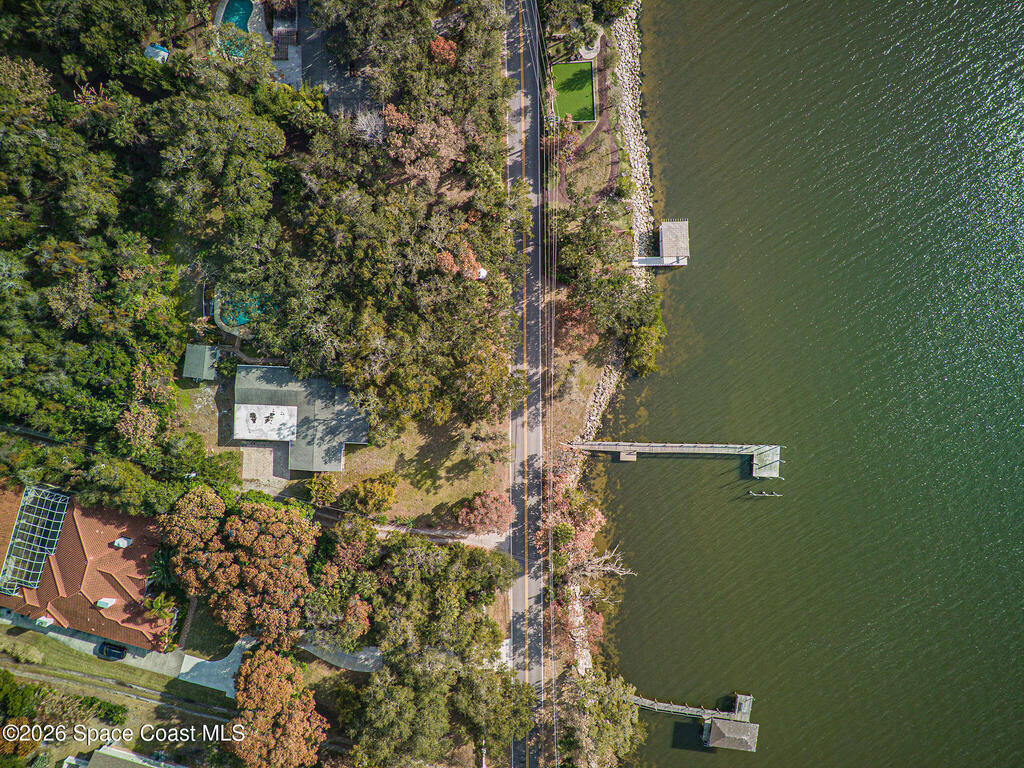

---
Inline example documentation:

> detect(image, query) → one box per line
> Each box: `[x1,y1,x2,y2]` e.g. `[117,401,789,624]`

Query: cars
[97,642,127,660]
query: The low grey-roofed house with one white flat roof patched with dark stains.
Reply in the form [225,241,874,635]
[233,364,369,472]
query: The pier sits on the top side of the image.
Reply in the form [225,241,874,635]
[632,218,689,266]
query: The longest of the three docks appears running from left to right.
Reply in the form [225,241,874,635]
[566,441,788,481]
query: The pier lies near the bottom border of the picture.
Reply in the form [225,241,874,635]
[621,691,760,755]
